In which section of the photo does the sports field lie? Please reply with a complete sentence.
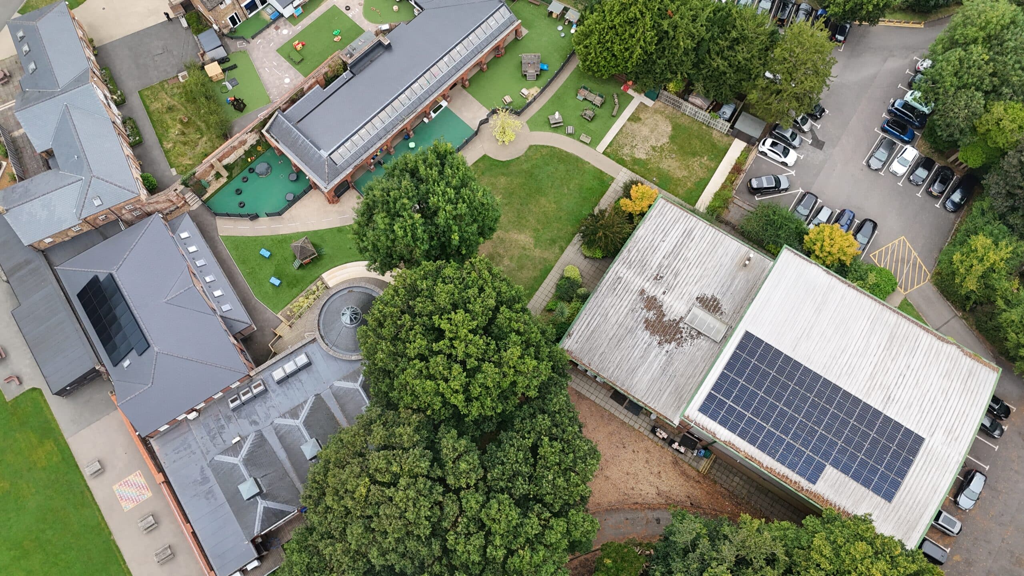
The sports field sits in the bottom left section of the image.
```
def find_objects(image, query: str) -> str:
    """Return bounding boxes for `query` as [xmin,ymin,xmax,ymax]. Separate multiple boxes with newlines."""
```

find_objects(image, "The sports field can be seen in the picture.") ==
[0,387,131,576]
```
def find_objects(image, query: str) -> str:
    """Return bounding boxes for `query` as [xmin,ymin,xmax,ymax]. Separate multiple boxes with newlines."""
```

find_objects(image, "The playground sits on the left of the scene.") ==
[197,0,343,116]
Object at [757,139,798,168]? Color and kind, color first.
white car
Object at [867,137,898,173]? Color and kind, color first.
gray car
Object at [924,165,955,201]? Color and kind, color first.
black car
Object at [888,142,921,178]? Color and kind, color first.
white car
